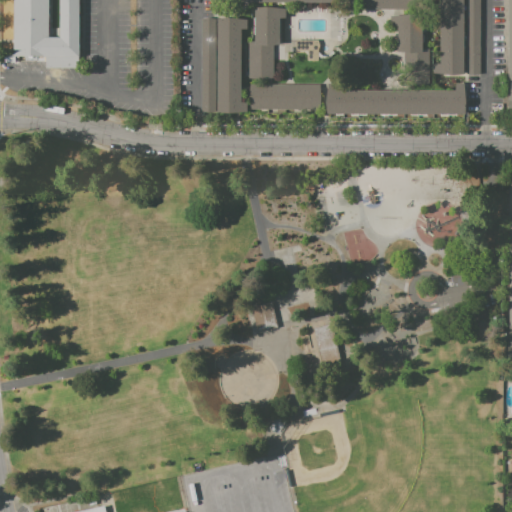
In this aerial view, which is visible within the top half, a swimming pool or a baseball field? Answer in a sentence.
It is a swimming pool that can be seen within the top half.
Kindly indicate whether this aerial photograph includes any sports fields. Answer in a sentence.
Yes, there is a sports field in the image.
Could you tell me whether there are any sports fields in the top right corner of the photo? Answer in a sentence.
No, I see no sports field in the top right corner of the photo.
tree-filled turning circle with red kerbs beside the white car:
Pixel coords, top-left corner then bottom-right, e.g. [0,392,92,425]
[404,266,470,313]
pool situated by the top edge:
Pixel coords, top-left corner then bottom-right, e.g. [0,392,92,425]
[292,12,348,55]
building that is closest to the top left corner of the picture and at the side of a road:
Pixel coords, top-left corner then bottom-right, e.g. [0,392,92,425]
[14,0,80,67]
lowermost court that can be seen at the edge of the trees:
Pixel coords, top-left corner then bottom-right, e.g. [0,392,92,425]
[344,230,378,263]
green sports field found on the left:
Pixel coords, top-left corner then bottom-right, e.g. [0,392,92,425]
[113,478,186,512]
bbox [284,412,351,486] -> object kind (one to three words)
baseball field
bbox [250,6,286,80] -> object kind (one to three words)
building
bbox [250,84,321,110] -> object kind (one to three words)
building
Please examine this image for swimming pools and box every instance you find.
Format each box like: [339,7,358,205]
[292,12,348,55]
[506,382,512,418]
